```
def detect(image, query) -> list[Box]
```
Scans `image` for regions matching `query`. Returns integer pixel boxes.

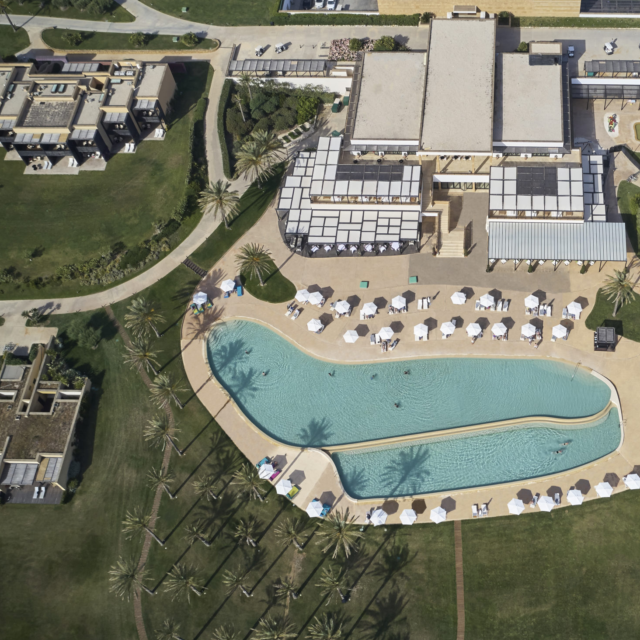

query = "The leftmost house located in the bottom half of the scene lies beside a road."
[0,335,97,493]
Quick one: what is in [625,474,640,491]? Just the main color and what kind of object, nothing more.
white umbrella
